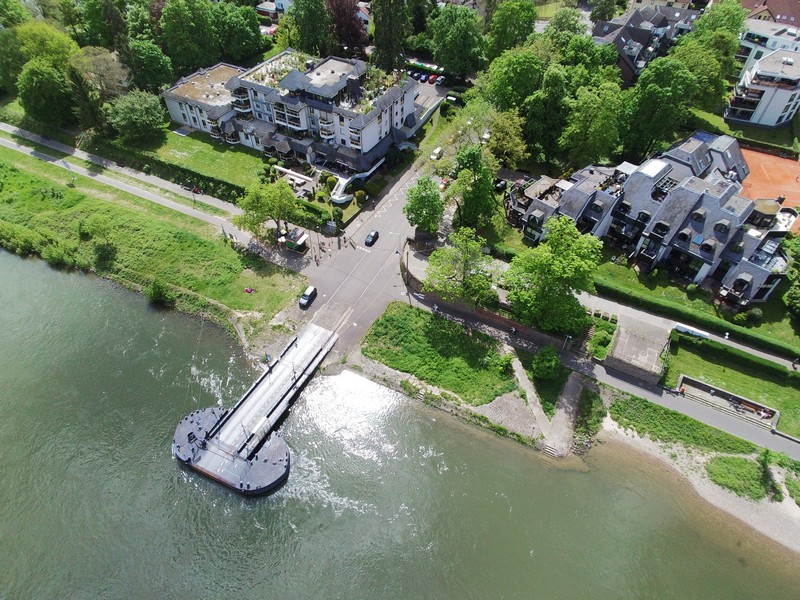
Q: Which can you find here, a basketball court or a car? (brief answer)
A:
car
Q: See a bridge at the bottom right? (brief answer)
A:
No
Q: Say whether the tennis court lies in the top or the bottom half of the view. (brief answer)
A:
top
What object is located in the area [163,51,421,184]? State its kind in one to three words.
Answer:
building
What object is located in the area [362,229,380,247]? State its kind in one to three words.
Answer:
car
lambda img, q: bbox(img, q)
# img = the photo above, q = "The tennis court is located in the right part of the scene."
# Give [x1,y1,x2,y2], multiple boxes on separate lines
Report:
[740,153,800,206]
